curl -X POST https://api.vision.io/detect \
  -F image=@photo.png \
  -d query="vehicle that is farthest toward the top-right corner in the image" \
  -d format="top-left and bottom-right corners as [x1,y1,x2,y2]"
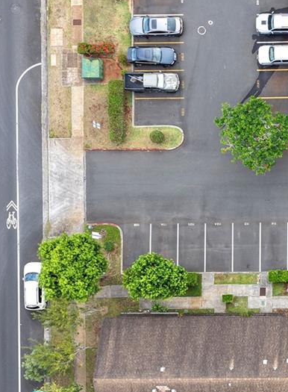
[255,9,288,36]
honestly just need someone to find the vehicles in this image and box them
[122,69,183,94]
[255,9,288,36]
[128,10,184,37]
[126,42,177,66]
[20,260,49,312]
[254,41,288,68]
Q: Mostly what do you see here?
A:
paved ground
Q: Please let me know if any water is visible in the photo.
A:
No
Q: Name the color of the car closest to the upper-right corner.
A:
white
